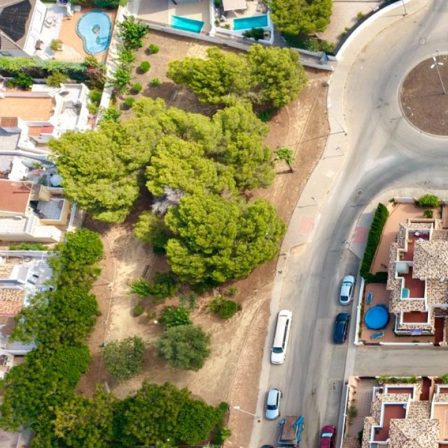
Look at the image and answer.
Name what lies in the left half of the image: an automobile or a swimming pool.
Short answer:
swimming pool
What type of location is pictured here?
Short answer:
residential area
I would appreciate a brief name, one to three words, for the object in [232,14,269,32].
swimming pool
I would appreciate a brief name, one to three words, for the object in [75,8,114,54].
swimming pool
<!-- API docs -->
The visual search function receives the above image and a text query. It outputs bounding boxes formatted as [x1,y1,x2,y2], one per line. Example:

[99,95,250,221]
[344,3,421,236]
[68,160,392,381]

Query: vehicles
[272,309,293,366]
[339,278,355,303]
[263,388,282,420]
[282,415,307,448]
[332,313,350,343]
[320,426,337,448]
